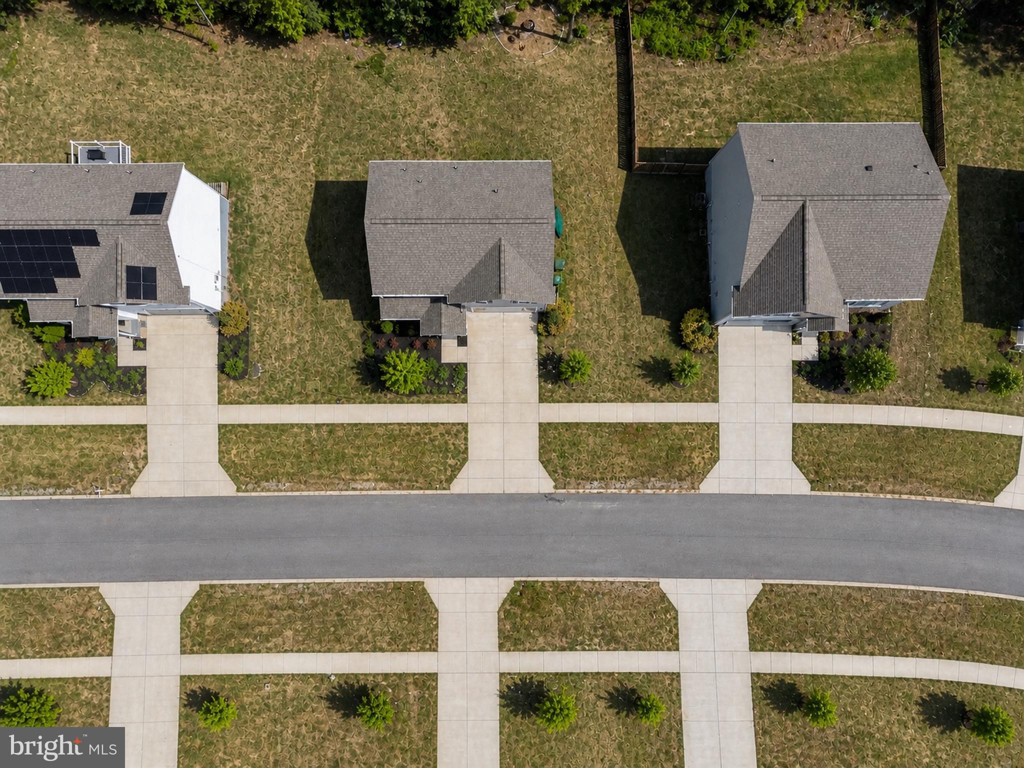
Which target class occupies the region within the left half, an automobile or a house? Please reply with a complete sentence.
There is a house within the left half.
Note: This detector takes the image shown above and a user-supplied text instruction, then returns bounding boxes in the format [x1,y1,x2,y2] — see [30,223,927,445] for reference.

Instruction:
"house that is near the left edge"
[0,162,226,338]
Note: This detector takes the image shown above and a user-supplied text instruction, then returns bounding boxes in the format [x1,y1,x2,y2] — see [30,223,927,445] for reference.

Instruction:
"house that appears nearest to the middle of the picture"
[363,159,557,335]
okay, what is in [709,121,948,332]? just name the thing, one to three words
house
